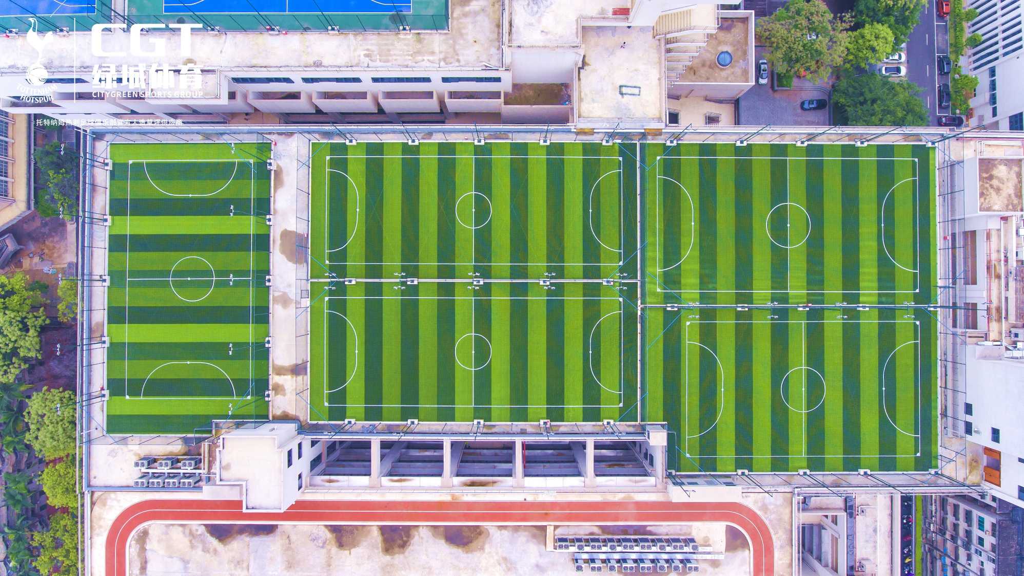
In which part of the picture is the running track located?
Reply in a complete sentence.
You can find the running track in the bottom area of the picture.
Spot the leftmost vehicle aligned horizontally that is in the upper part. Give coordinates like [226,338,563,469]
[802,98,827,110]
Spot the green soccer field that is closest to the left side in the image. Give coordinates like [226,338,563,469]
[104,141,274,436]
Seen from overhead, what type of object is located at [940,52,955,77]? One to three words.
car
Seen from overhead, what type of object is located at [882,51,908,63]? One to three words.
vehicle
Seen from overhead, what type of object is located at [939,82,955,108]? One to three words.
car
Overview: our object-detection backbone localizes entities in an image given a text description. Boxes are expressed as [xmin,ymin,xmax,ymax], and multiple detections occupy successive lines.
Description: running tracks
[105,499,775,576]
